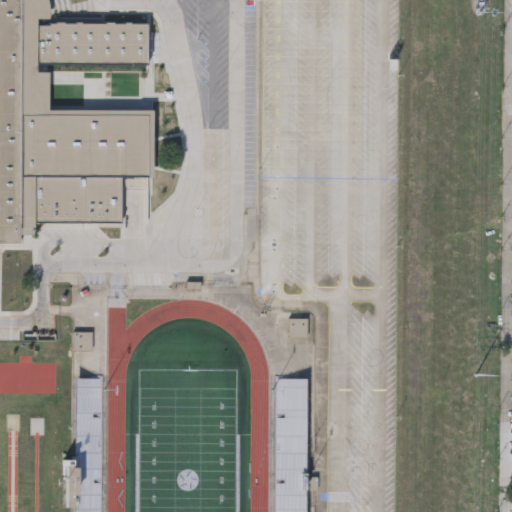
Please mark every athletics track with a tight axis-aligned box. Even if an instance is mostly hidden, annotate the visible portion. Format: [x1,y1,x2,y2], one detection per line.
[106,298,270,512]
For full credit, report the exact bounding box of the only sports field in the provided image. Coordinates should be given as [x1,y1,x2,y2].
[126,318,250,512]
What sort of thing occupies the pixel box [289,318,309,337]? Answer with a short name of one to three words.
building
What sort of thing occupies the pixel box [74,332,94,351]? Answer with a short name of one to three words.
building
